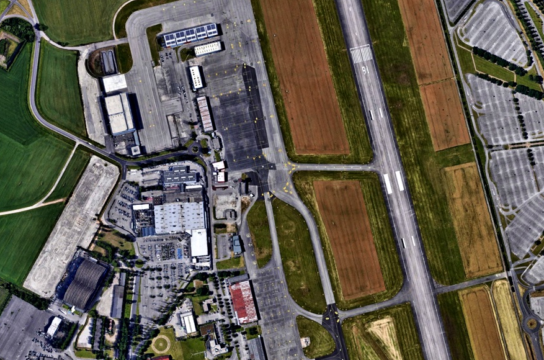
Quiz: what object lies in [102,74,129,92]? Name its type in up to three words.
hangar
